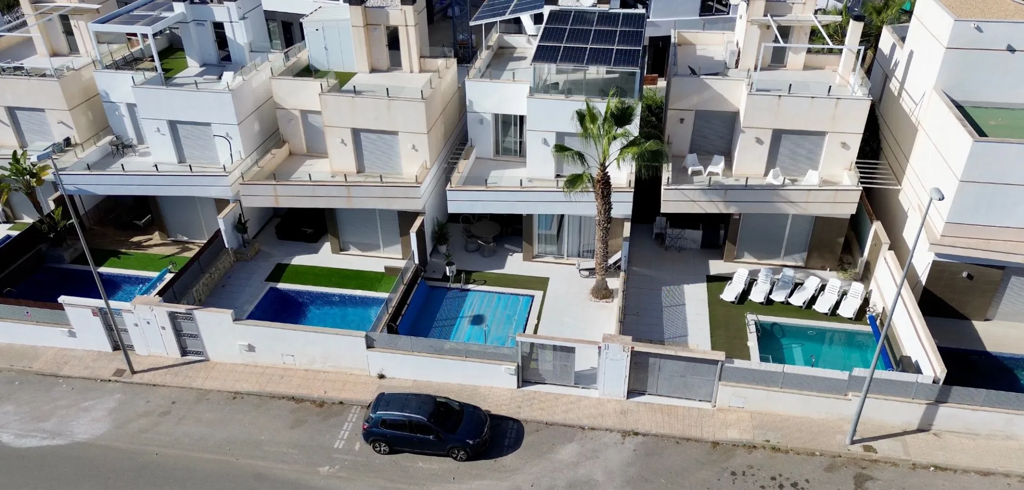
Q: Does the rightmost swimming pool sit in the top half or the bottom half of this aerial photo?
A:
bottom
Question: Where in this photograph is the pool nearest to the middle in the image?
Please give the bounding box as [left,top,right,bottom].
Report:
[421,277,544,356]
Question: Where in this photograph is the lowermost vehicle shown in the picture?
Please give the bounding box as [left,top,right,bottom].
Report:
[359,392,490,464]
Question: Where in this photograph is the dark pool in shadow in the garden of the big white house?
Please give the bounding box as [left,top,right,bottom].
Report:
[936,341,1024,399]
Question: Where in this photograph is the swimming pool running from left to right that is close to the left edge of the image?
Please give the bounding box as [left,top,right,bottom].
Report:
[17,261,180,304]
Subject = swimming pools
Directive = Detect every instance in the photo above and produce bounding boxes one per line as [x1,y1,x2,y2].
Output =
[238,280,386,327]
[936,341,1024,399]
[746,311,888,388]
[421,277,544,356]
[17,261,180,304]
